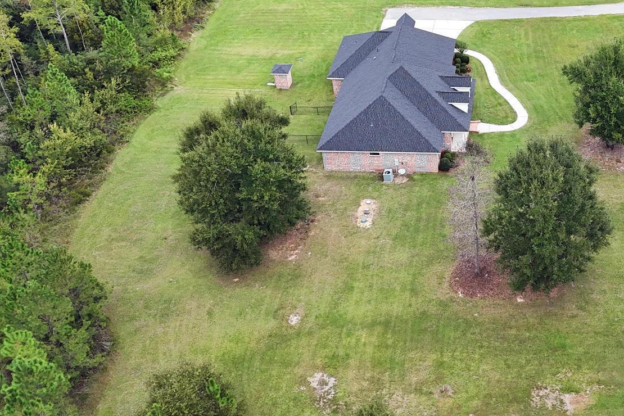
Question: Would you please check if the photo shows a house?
Yes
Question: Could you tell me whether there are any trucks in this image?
No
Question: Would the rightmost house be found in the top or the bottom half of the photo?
top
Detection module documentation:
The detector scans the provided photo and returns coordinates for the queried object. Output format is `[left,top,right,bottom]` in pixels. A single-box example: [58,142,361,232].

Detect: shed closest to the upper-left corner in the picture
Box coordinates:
[270,64,293,89]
